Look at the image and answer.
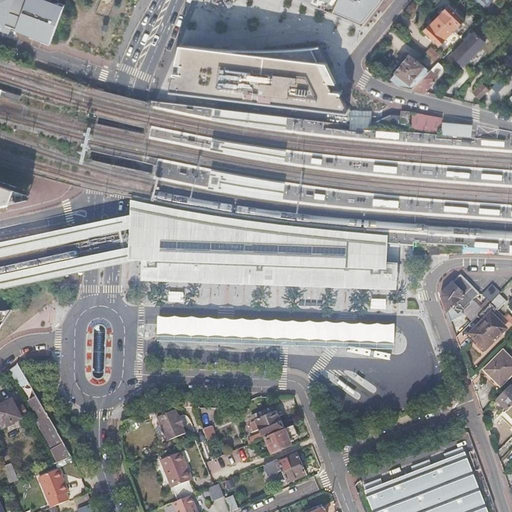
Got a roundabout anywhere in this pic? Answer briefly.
Yes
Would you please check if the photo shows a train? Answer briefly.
Yes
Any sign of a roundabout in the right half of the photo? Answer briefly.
No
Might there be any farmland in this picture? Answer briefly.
No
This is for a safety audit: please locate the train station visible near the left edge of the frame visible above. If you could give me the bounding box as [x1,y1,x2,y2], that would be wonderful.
[0,214,130,289]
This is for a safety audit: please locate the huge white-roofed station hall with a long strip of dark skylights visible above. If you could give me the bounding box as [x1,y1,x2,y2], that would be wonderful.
[130,200,398,290]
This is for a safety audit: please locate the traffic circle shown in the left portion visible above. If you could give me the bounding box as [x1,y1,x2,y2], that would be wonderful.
[60,286,142,411]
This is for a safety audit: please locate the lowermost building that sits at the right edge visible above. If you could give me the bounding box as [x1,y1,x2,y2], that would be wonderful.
[364,451,489,512]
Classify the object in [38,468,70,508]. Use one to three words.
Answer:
house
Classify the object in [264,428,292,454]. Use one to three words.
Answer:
house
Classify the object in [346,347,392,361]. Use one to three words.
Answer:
vehicle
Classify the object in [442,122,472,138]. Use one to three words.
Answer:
building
